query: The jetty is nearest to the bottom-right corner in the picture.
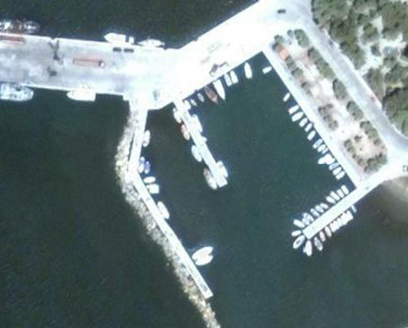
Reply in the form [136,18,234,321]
[303,183,389,240]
